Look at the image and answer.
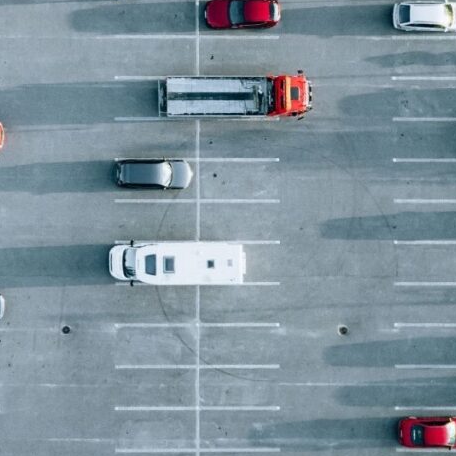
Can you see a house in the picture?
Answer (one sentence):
No, no house can be seen from above.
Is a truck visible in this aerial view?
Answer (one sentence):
Yes, you can see a truck in this photo.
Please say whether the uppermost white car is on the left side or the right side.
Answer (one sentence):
You can find the uppermost white car on the right side of the picture.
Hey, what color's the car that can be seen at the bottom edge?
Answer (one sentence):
The color of the car that can be seen at the bottom edge is red.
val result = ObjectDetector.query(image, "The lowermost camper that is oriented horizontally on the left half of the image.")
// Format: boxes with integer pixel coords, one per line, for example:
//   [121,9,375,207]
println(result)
[108,239,247,286]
